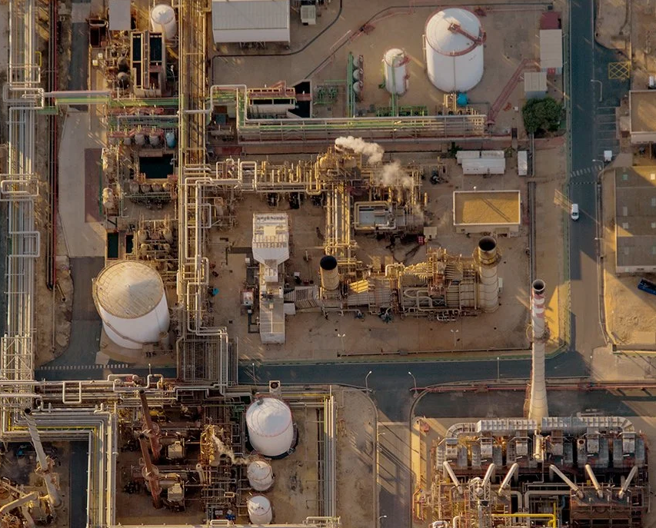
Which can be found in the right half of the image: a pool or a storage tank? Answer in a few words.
storage tank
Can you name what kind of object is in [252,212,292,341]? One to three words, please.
house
